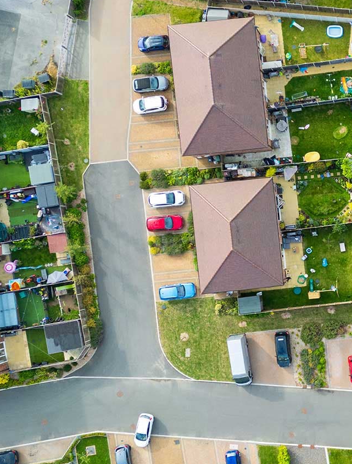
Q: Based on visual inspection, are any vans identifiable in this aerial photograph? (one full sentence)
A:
Yes, a van is visible in the scene.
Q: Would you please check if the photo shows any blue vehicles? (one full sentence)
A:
Yes, a blue vehicle can be made out from above.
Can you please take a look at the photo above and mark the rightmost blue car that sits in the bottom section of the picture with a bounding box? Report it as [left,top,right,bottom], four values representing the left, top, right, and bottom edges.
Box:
[274,330,292,367]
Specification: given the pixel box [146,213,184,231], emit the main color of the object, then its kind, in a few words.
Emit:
red car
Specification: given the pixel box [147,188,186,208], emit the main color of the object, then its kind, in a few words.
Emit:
white car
